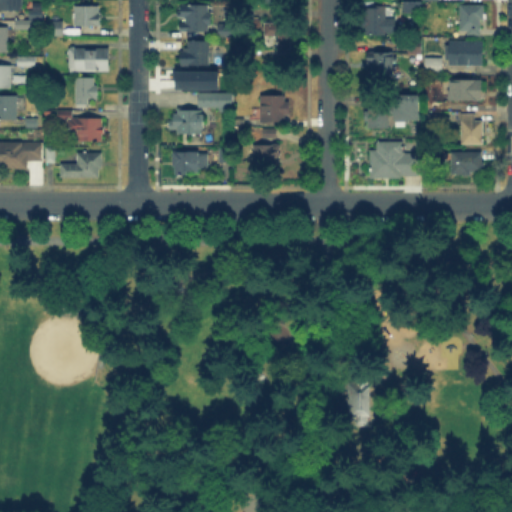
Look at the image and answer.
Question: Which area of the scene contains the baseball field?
bottom left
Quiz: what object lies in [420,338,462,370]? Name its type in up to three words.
playground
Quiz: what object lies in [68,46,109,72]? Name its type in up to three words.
house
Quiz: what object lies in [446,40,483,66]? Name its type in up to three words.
house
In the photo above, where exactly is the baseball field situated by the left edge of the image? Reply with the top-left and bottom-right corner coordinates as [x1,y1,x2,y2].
[0,298,109,512]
